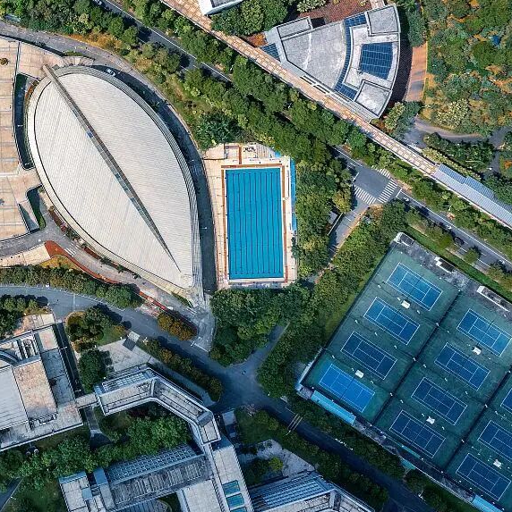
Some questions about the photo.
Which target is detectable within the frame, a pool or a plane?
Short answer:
pool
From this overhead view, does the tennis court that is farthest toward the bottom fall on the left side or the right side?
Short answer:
right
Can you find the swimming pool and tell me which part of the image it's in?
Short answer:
center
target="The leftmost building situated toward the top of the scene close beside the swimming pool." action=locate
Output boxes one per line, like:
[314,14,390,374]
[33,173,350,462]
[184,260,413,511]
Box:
[27,64,202,304]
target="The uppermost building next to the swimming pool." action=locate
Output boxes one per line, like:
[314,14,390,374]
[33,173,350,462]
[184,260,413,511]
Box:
[256,3,401,120]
